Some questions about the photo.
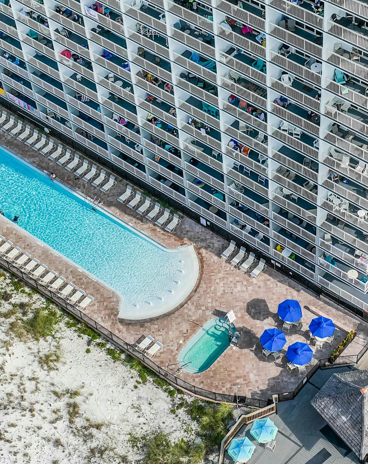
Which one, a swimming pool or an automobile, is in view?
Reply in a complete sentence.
The image shows a swimming pool.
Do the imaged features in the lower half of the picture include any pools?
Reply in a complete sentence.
Yes, a pool shows up in the lower half of the picture.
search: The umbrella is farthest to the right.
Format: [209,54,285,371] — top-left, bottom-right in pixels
[307,317,337,344]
